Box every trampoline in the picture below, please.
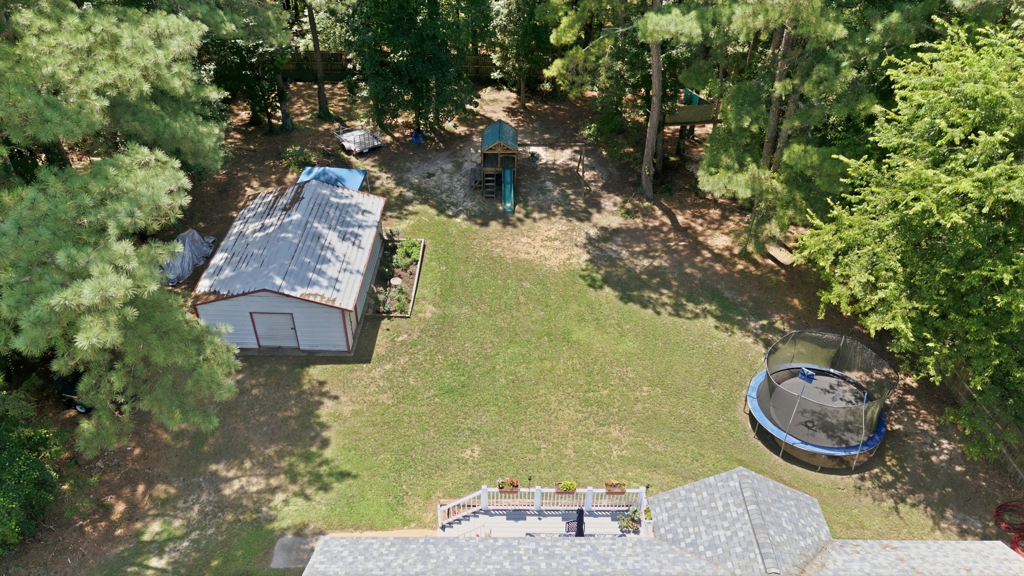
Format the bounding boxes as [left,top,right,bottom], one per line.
[746,323,896,472]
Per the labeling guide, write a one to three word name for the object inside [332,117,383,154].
trailer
